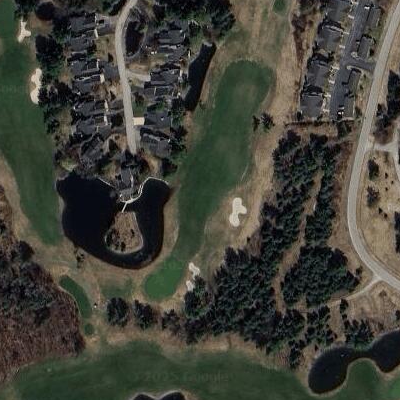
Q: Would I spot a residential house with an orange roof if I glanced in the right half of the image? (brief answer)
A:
No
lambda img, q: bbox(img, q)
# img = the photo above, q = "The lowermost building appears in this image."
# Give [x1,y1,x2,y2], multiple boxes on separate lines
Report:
[117,157,138,197]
